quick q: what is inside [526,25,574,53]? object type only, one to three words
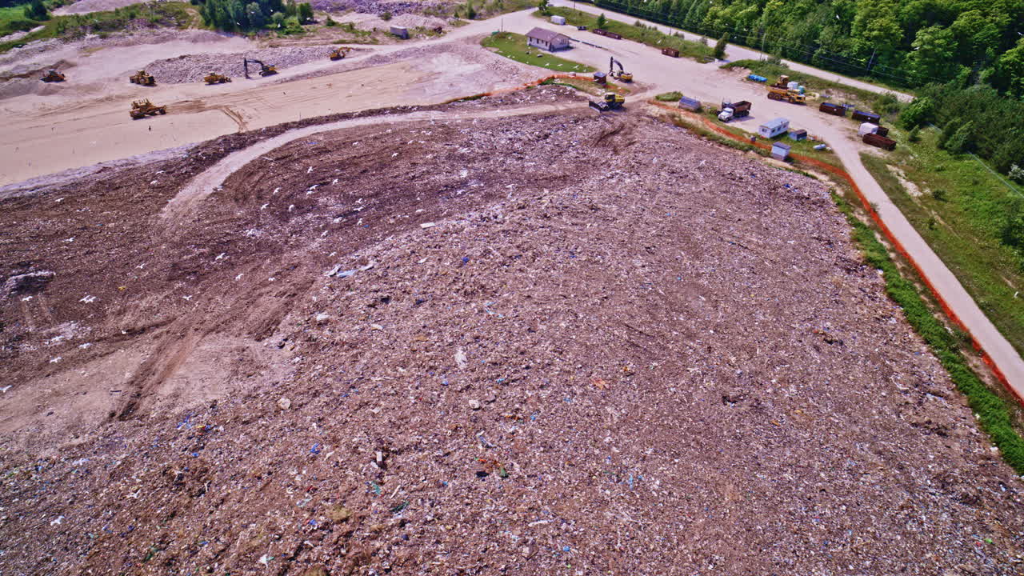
house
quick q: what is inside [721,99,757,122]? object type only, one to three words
truck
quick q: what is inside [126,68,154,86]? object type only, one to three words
work vehicle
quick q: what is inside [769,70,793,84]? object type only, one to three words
work vehicle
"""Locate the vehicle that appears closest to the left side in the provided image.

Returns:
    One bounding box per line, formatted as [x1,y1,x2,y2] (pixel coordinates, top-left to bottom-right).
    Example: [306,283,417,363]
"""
[36,67,64,81]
